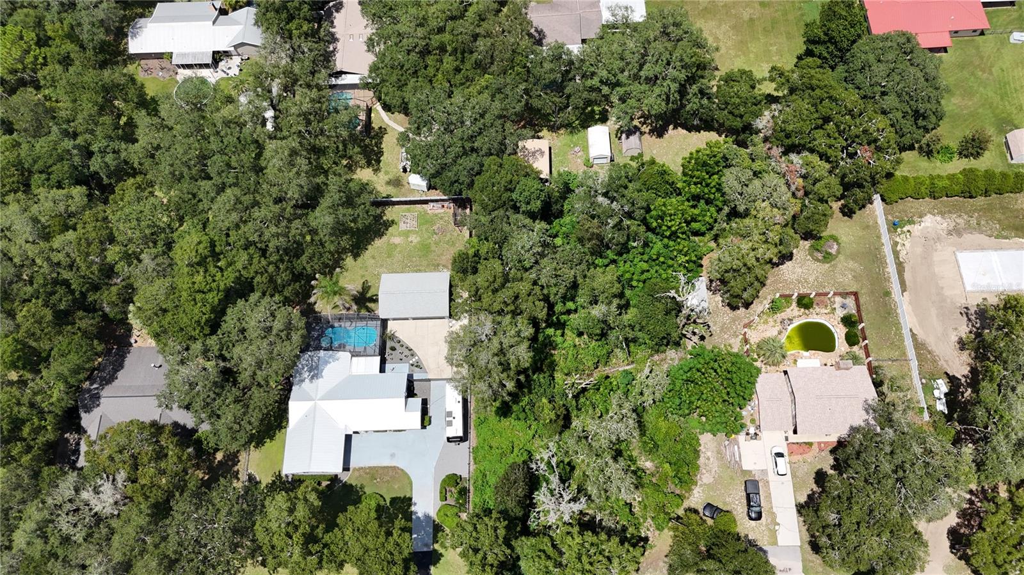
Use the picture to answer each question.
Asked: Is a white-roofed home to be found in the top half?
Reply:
Yes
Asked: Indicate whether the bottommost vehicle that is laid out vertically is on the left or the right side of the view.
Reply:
right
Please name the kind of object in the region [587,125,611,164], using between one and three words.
shed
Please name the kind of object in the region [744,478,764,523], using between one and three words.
vehicle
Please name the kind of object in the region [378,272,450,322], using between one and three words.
building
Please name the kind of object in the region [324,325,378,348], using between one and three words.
swimming pool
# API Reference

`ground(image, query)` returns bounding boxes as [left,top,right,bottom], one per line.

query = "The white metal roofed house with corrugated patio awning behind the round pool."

[128,0,270,71]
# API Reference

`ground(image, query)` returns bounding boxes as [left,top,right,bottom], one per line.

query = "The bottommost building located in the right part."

[752,358,880,439]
